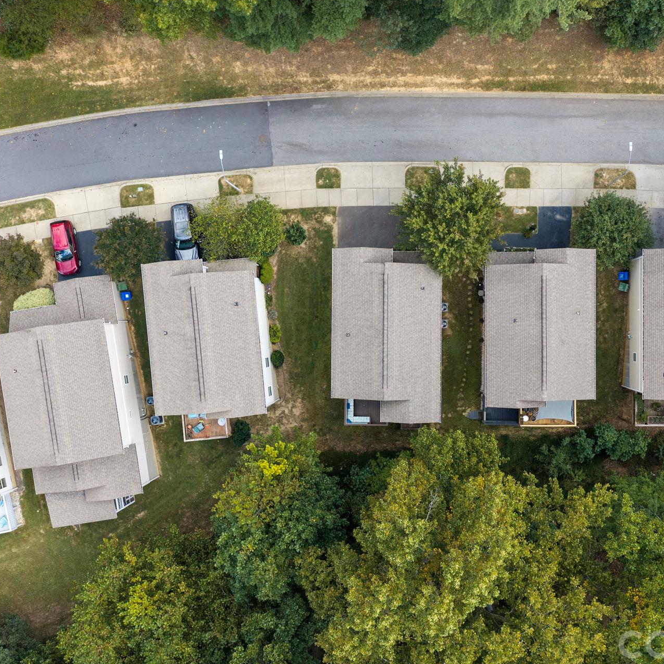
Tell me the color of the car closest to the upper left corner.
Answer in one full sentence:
The car closest to the upper left corner is red.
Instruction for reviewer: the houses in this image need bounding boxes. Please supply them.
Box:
[479,248,598,409]
[0,274,162,528]
[624,248,664,399]
[139,256,277,419]
[330,247,443,424]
